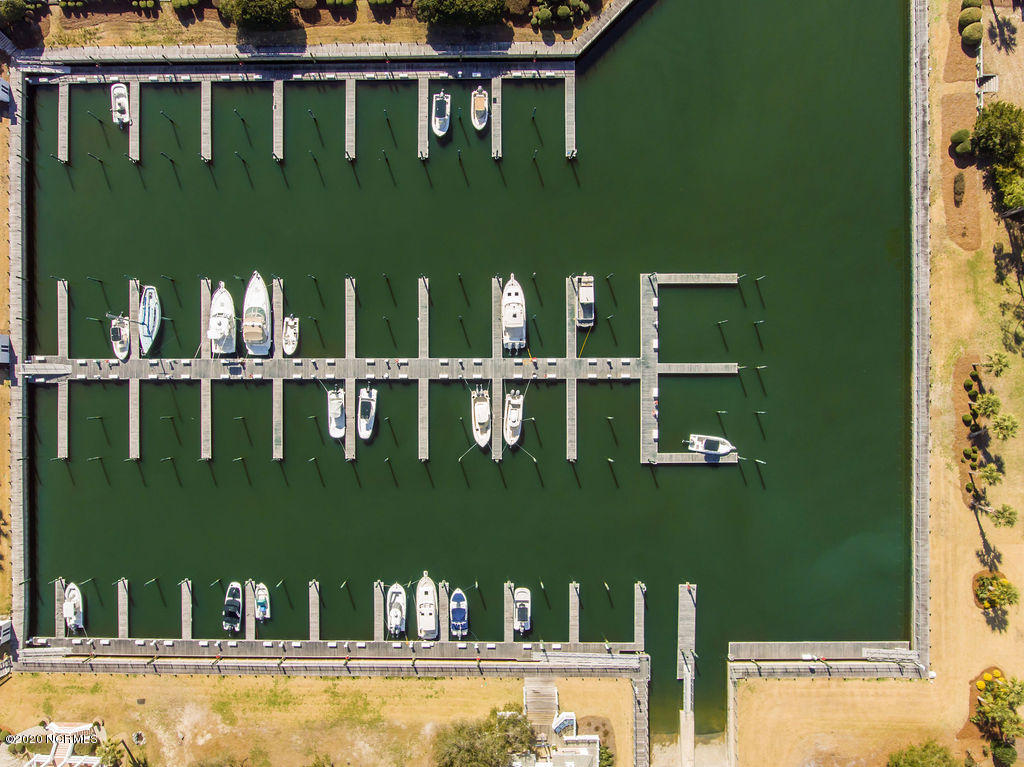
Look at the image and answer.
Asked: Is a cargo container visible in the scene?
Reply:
No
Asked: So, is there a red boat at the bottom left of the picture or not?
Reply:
No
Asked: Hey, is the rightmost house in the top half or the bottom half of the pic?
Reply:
bottom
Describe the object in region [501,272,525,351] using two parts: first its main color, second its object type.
white boat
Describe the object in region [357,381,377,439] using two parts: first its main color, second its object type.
white boat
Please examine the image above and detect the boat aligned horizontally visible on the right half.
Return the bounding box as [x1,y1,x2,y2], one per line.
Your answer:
[682,434,737,454]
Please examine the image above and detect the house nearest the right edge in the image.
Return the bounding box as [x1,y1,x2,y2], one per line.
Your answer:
[552,708,601,767]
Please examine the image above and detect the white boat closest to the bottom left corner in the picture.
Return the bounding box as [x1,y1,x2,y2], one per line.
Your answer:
[62,583,85,637]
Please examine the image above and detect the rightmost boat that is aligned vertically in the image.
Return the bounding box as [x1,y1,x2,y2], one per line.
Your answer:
[577,273,594,325]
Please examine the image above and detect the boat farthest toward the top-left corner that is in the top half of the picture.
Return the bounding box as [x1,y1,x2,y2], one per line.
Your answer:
[111,83,130,129]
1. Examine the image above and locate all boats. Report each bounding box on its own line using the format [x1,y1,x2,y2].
[514,588,531,634]
[501,272,525,351]
[416,572,439,639]
[504,391,523,446]
[471,88,488,130]
[682,434,737,454]
[450,588,468,644]
[104,286,160,354]
[255,583,270,622]
[223,582,243,640]
[327,382,346,438]
[387,583,406,635]
[110,310,133,360]
[242,270,273,354]
[111,83,130,129]
[282,314,299,355]
[471,383,491,447]
[432,86,450,137]
[194,281,238,354]
[62,583,85,637]
[577,273,594,325]
[357,381,377,439]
